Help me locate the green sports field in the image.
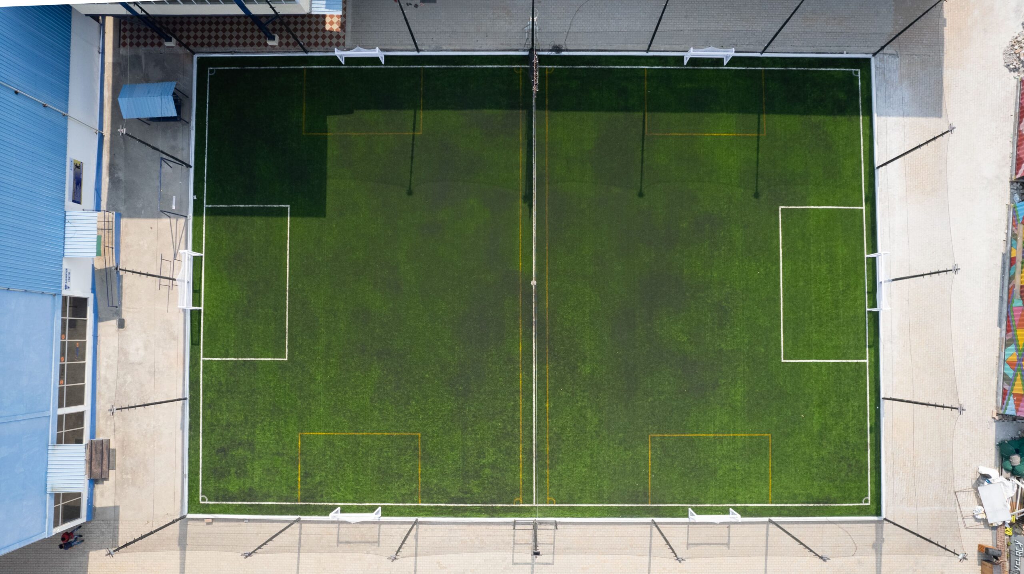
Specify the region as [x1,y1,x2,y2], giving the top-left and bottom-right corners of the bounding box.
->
[182,53,880,517]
